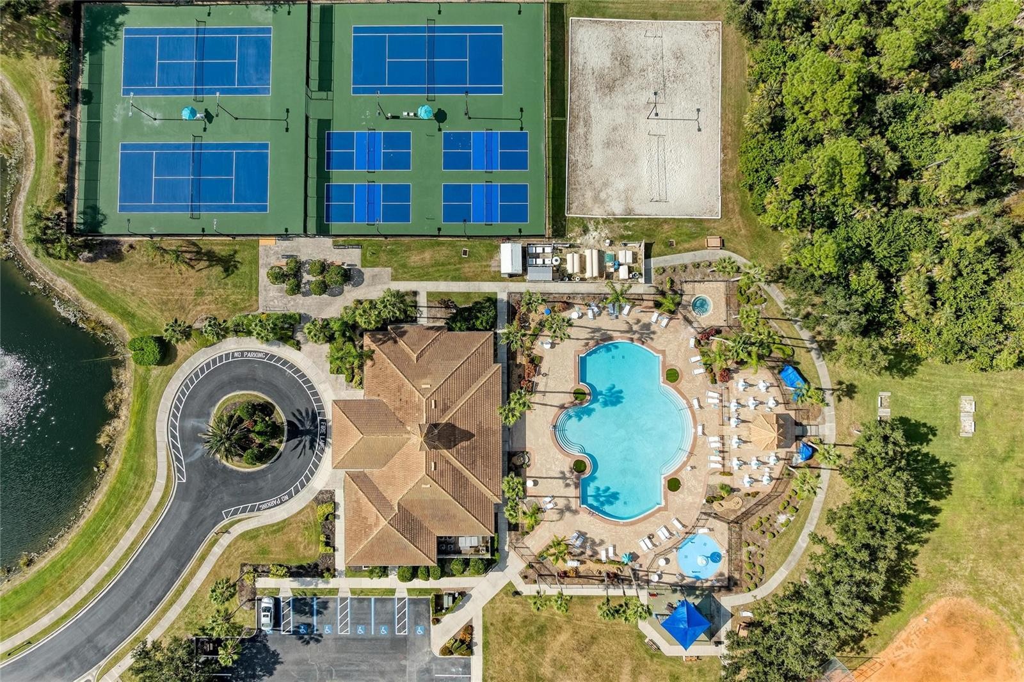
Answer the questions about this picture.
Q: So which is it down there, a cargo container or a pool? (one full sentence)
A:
Visible in the photo is a pool.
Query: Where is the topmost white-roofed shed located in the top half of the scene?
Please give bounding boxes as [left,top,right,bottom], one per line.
[500,242,522,276]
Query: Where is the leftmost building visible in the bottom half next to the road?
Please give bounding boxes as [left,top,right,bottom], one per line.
[332,325,502,570]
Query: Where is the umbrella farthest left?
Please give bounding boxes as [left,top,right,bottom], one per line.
[183,107,198,121]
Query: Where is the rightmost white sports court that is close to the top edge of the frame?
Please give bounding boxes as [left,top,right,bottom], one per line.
[566,17,723,219]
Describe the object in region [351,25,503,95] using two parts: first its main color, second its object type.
blue tennis court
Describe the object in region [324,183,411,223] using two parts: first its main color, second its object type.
blue sports court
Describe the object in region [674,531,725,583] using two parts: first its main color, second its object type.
blue swimming pool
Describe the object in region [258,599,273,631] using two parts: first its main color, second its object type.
white car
